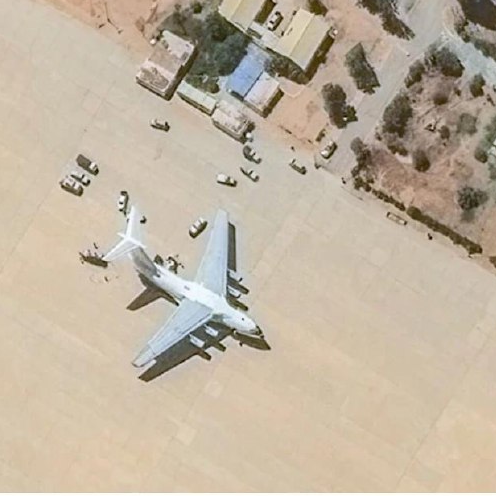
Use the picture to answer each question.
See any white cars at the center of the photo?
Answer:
Yes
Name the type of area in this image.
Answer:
airport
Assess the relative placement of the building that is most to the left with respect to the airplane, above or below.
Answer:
above it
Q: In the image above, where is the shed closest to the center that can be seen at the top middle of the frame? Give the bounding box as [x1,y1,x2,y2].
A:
[212,99,248,139]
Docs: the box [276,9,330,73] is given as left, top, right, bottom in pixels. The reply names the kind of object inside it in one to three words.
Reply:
building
